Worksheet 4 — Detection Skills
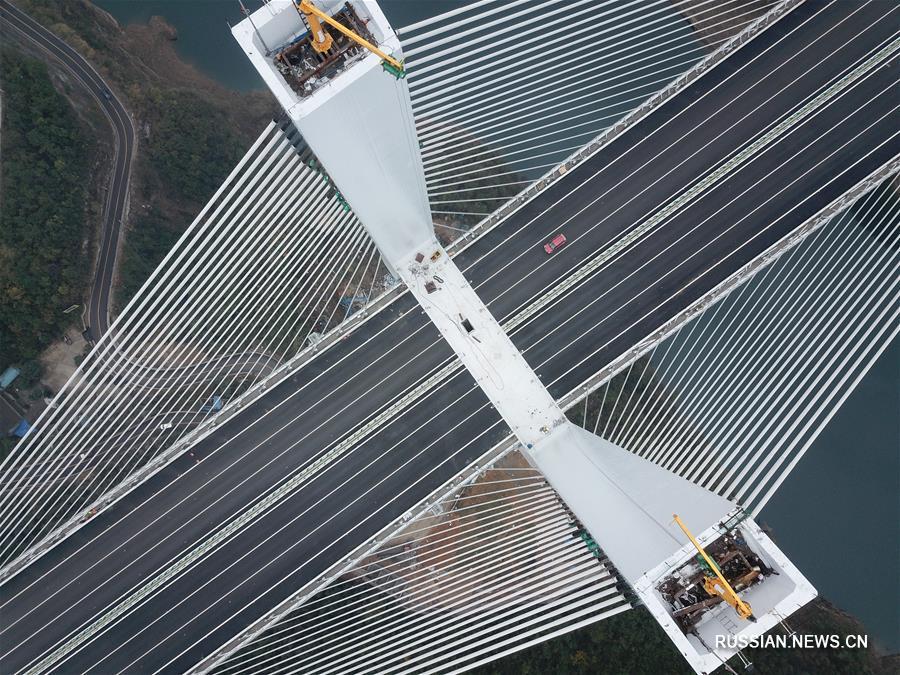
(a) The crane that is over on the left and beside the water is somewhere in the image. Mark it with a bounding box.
[286,0,404,78]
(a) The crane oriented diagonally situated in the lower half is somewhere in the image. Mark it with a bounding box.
[670,512,761,629]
